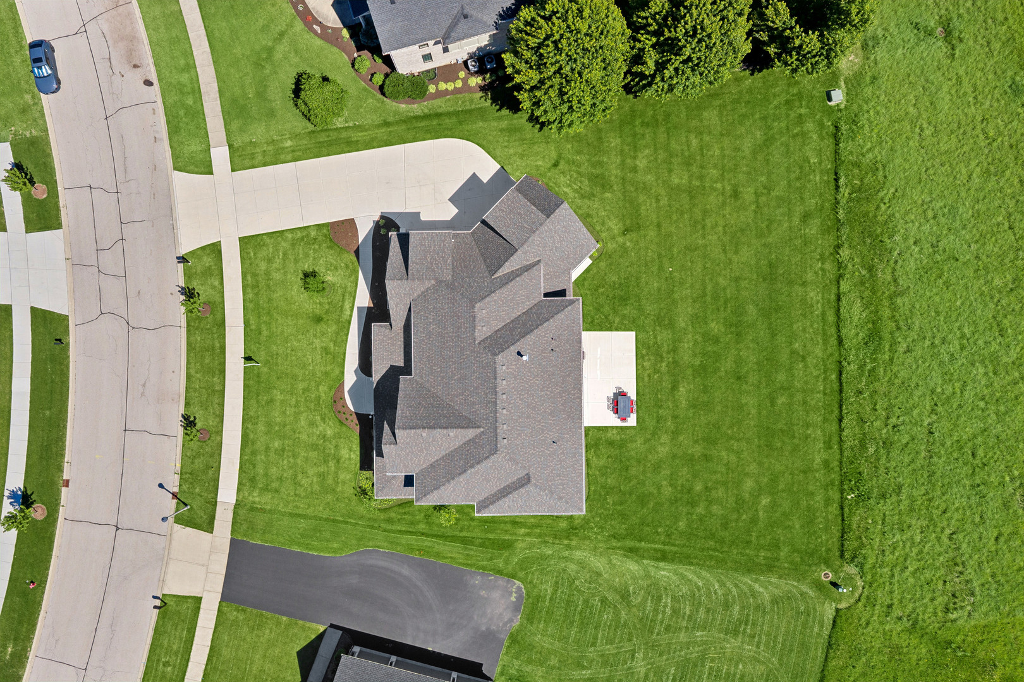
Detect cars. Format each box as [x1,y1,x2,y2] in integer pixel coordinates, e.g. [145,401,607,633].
[28,38,62,95]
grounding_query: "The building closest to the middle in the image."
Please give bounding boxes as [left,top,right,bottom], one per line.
[372,173,599,517]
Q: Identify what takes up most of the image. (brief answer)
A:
grass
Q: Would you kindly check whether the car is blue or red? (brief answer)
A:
blue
